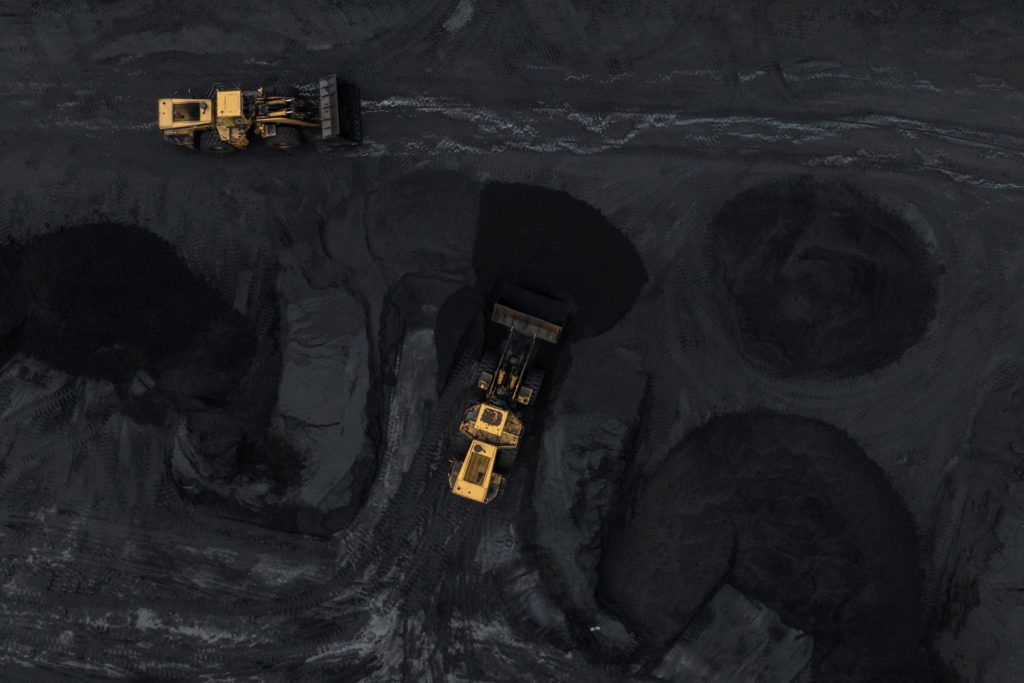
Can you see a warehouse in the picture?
No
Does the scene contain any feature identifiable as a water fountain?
No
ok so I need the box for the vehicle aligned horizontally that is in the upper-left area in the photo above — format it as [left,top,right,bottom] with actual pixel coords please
[158,74,364,151]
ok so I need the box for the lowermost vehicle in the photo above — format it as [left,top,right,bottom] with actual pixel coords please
[445,291,563,503]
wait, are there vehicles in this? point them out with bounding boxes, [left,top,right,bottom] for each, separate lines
[158,74,364,151]
[445,291,563,503]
